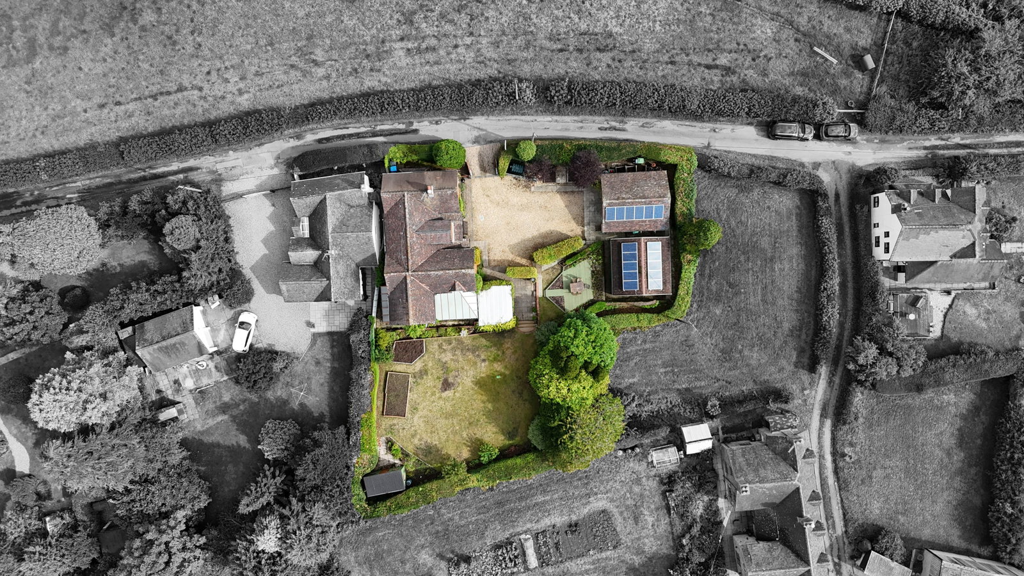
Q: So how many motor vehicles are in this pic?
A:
3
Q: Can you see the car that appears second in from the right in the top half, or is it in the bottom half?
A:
top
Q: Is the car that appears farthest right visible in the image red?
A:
No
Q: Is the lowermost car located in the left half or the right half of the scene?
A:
left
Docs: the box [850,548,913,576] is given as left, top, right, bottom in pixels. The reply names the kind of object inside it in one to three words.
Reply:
shed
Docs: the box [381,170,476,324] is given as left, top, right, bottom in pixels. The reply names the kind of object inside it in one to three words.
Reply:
house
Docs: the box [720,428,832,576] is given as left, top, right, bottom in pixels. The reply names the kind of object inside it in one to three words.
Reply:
house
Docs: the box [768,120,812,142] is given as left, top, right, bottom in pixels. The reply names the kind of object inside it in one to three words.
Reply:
car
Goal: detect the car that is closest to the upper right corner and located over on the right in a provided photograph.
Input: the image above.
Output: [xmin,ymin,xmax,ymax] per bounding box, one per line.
[819,121,857,142]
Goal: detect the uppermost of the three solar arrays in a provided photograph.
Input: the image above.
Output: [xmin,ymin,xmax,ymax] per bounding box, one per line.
[605,205,665,221]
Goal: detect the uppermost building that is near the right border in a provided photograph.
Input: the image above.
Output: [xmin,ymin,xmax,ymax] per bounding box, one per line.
[873,183,1007,261]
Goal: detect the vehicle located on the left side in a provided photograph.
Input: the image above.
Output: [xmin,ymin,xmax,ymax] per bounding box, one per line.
[232,311,259,353]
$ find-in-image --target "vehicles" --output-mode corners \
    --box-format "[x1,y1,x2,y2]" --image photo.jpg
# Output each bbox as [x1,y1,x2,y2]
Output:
[768,120,812,142]
[819,121,857,142]
[232,311,259,353]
